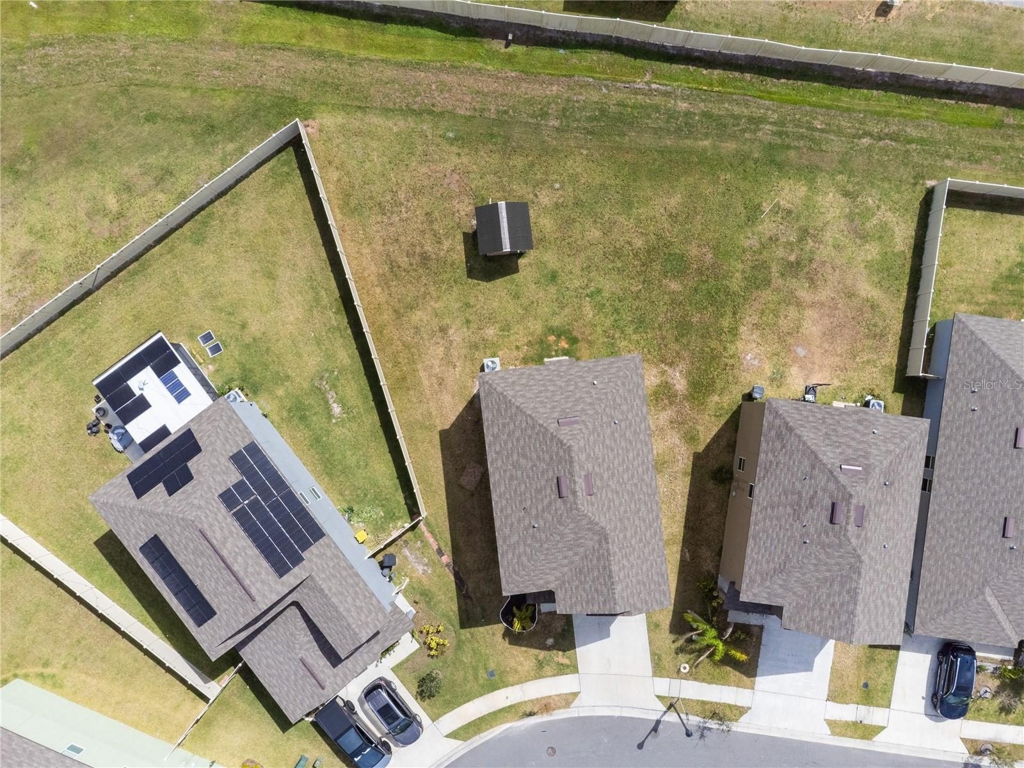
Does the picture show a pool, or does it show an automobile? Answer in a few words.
automobile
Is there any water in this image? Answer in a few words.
No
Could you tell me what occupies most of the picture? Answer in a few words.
grass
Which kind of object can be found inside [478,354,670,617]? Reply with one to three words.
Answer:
house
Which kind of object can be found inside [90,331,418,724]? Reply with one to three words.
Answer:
house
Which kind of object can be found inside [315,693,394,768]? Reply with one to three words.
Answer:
truck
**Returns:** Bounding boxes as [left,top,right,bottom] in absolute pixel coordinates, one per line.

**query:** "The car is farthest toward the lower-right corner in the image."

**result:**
[930,643,977,720]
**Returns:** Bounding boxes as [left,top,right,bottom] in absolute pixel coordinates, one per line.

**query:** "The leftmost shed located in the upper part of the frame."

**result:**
[475,196,533,259]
